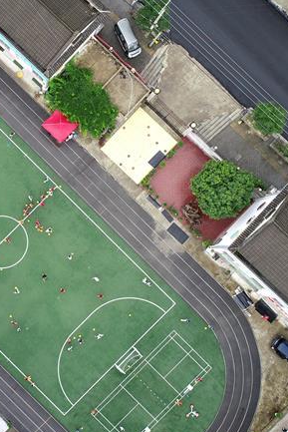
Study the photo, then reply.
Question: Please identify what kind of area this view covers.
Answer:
sports ground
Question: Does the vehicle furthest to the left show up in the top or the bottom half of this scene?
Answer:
top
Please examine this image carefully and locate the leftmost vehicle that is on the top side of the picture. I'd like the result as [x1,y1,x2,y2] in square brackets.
[115,18,140,60]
